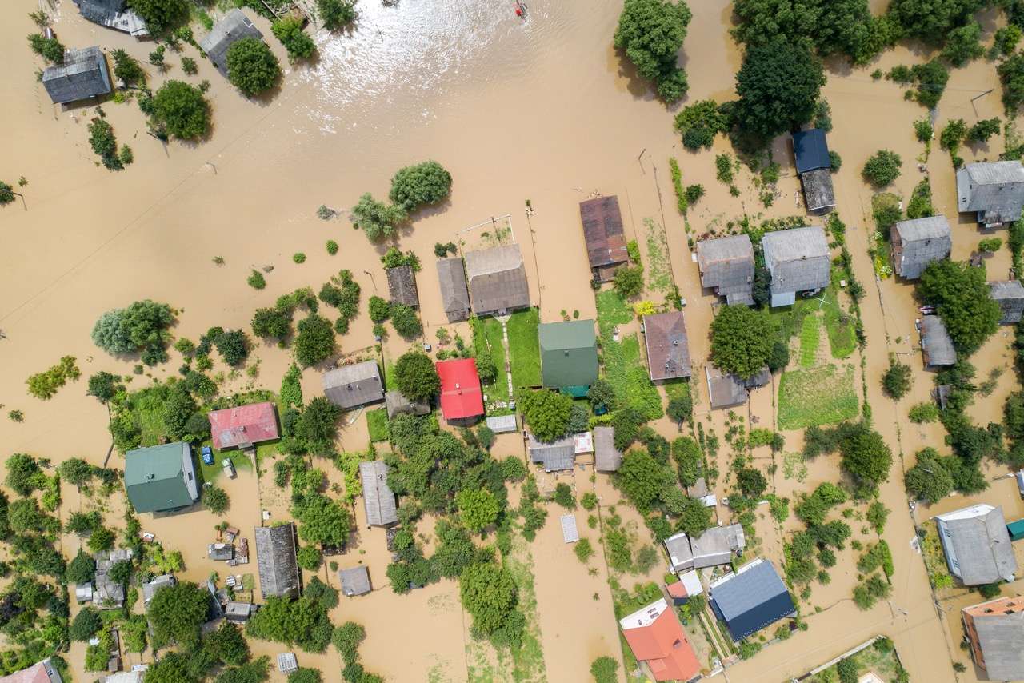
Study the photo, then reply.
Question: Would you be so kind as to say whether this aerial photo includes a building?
Yes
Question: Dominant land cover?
water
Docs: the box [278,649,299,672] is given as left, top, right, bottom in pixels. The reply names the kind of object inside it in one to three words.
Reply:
greenhouse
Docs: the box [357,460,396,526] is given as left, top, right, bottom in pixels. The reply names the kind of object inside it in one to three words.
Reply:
barn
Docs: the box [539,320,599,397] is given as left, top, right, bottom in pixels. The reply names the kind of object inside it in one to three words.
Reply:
house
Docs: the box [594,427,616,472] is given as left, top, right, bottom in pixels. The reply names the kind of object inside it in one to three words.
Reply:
shed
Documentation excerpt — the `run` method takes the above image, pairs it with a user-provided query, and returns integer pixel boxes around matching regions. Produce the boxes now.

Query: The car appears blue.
[202,446,214,465]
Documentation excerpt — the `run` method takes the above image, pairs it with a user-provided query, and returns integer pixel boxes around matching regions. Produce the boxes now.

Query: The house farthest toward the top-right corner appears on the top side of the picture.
[958,160,1024,224]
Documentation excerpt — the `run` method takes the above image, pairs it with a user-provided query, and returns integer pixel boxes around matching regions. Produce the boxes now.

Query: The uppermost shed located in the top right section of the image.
[790,128,831,172]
